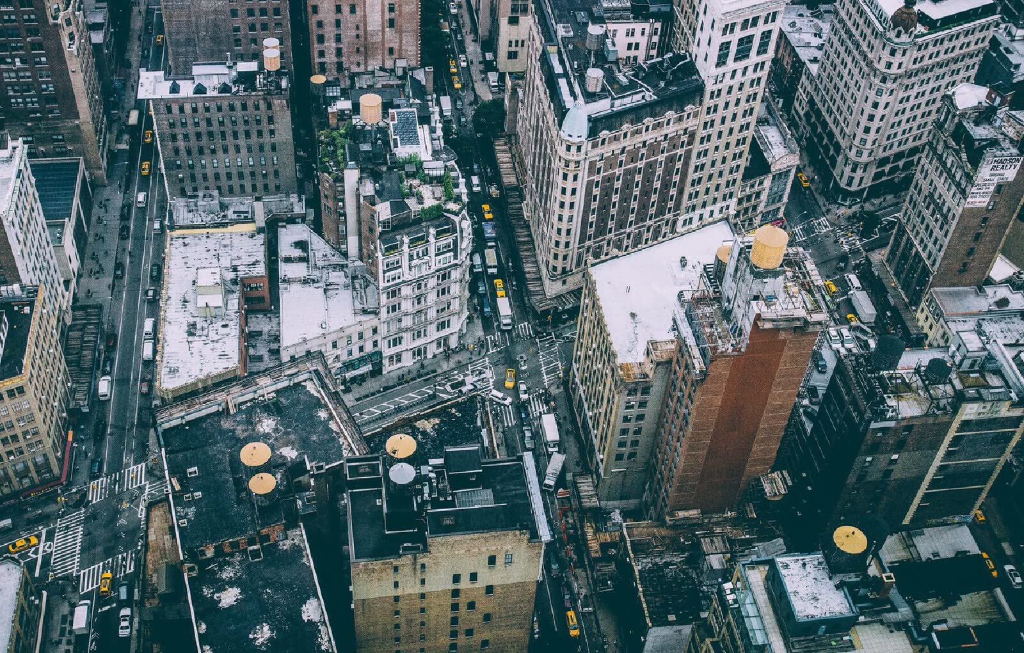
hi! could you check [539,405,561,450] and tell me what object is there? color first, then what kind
white truck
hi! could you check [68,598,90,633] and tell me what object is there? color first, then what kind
white truck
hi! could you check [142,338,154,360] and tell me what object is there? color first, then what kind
white vehicle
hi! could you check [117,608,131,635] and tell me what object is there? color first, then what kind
white car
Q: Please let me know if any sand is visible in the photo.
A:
No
